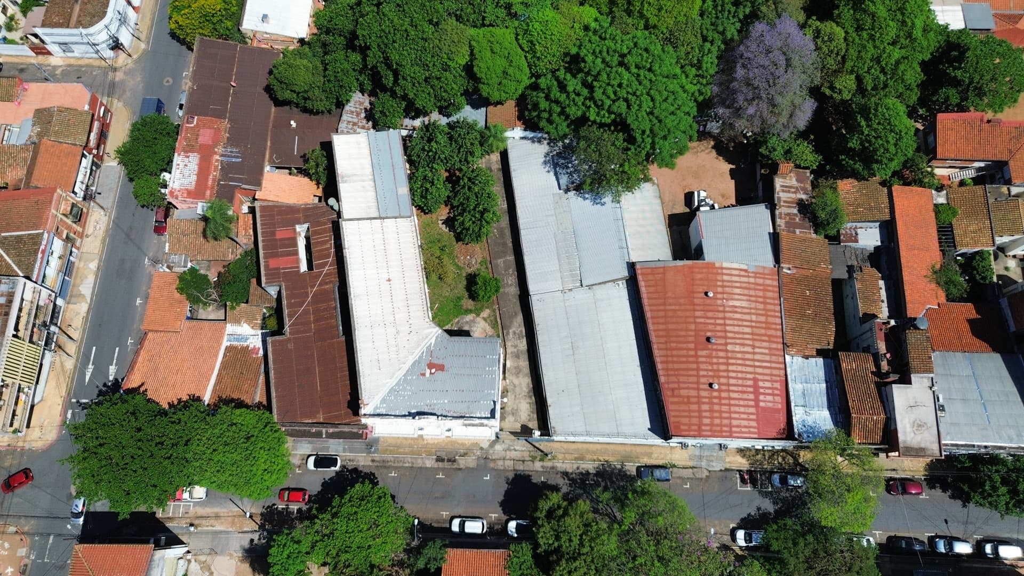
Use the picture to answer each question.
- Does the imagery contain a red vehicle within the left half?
Yes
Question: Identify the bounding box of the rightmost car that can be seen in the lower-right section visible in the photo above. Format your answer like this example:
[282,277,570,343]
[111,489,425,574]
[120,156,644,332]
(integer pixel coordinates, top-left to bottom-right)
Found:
[982,539,1024,559]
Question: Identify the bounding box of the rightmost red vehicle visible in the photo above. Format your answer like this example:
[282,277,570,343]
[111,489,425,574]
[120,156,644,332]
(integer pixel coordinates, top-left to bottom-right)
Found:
[887,478,923,496]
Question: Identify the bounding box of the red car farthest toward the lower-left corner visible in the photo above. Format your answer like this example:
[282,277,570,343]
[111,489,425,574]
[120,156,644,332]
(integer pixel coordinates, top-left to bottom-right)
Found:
[0,466,37,495]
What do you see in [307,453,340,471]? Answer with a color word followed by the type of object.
black car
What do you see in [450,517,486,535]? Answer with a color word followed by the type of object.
white car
